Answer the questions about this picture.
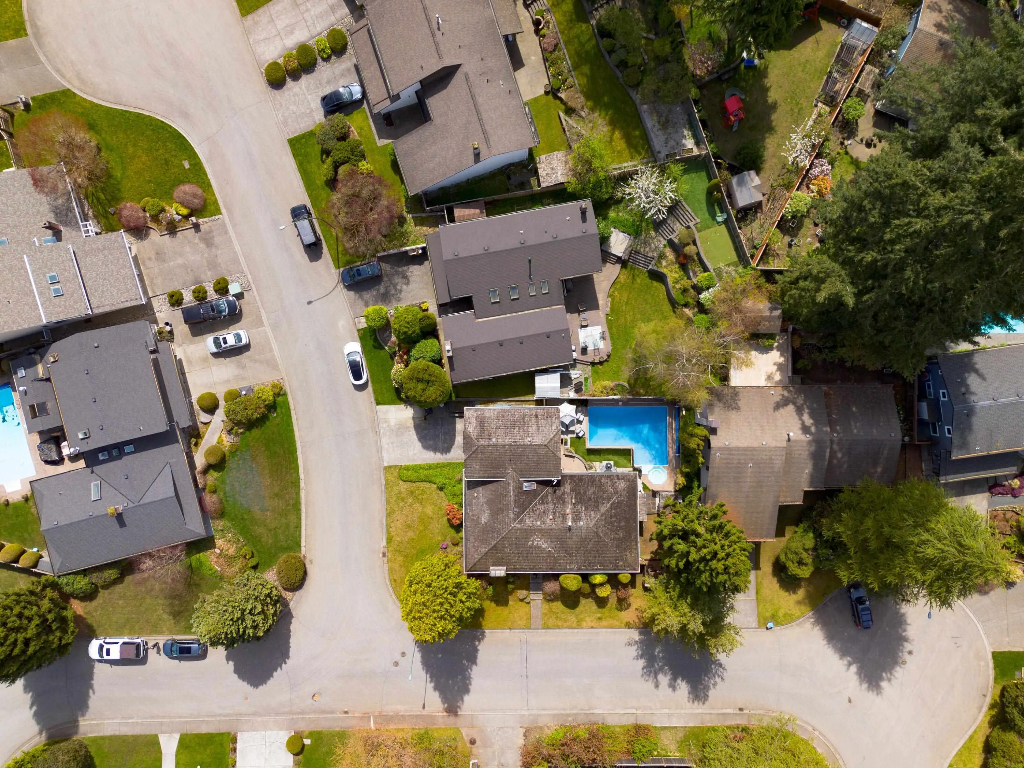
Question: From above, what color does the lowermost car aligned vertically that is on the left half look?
white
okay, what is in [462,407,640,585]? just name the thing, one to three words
house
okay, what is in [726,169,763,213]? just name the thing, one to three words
shed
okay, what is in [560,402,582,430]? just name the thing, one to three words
umbrella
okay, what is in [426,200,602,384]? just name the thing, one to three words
house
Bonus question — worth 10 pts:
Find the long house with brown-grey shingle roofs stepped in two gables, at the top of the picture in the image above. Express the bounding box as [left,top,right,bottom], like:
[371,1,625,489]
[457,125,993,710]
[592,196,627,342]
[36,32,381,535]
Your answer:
[347,0,538,198]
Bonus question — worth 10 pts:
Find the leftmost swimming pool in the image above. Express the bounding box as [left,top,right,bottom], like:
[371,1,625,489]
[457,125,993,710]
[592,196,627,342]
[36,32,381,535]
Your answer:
[0,382,37,495]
